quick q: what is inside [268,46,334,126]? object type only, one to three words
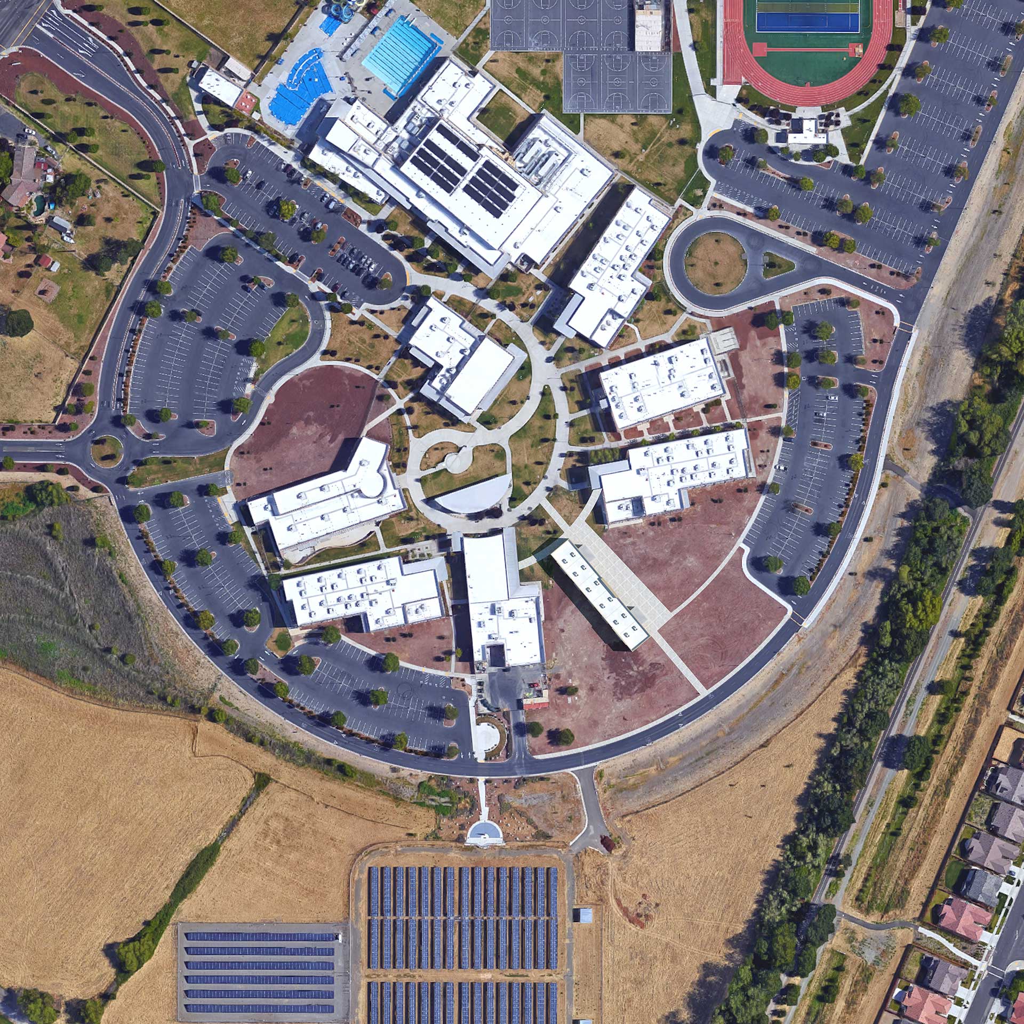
swimming pool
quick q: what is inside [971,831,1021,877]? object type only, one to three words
house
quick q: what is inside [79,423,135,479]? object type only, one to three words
roundabout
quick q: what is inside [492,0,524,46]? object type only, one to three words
basketball court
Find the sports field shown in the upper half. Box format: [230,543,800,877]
[744,0,873,86]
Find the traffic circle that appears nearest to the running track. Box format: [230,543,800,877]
[672,218,763,310]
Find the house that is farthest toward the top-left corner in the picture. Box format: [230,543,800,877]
[1,147,42,207]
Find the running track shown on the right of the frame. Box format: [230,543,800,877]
[723,0,893,106]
